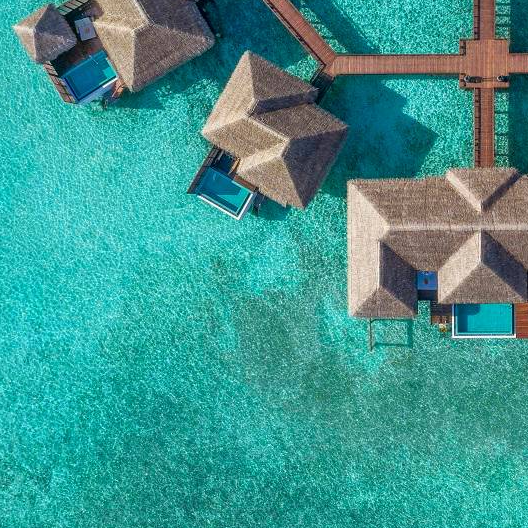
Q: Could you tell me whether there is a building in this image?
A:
Yes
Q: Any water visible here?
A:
Yes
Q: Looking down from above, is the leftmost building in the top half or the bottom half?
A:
top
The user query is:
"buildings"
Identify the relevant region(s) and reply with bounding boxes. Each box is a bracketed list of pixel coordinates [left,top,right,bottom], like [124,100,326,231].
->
[12,4,78,65]
[346,168,528,319]
[93,0,217,91]
[202,50,350,209]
